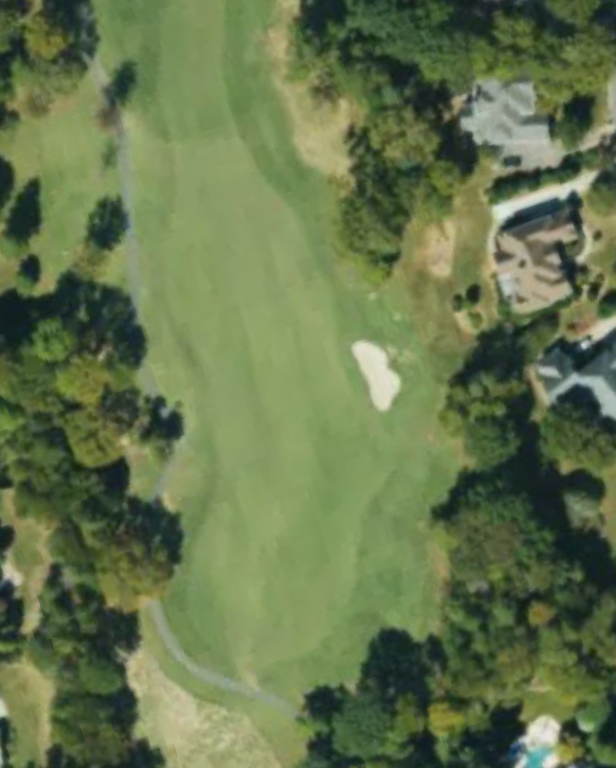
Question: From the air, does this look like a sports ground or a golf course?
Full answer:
The picture captures a golf course.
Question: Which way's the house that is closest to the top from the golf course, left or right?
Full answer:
The house that is closest to the top is to the right of the golf course.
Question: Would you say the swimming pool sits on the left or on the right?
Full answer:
The swimming pool sits on the right side.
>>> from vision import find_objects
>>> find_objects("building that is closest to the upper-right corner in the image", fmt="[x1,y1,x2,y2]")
[460,81,552,146]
